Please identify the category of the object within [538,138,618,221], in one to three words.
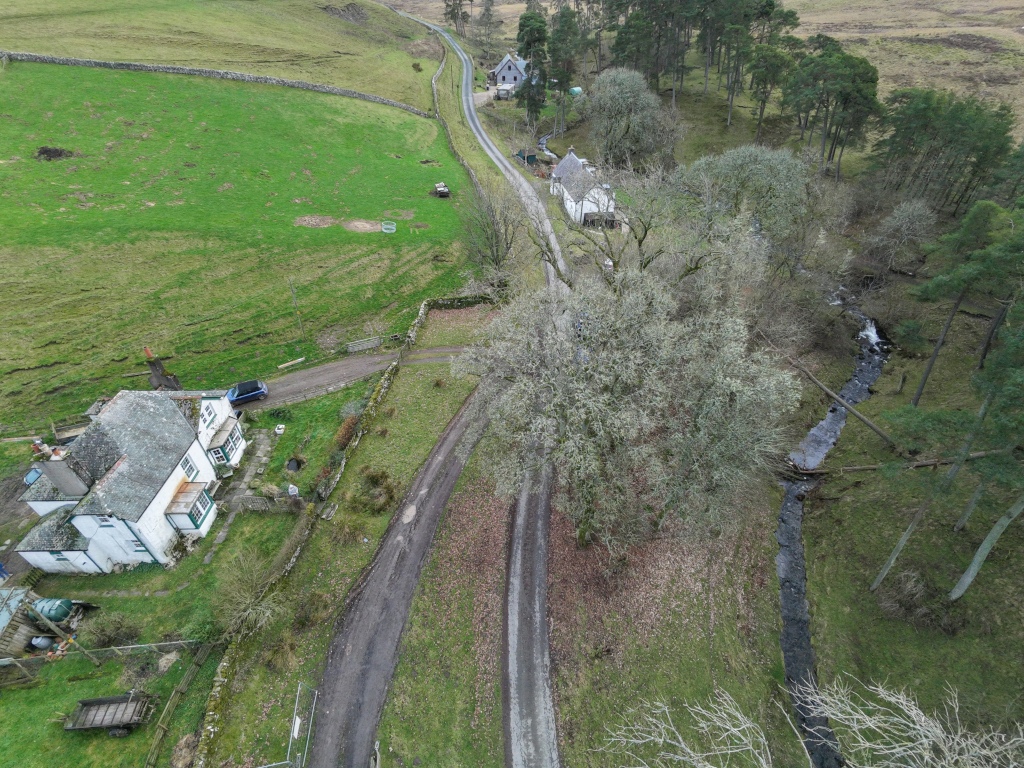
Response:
house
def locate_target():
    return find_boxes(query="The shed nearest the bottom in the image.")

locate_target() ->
[0,591,41,671]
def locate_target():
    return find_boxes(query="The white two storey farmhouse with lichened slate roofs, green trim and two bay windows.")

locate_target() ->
[15,343,249,581]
